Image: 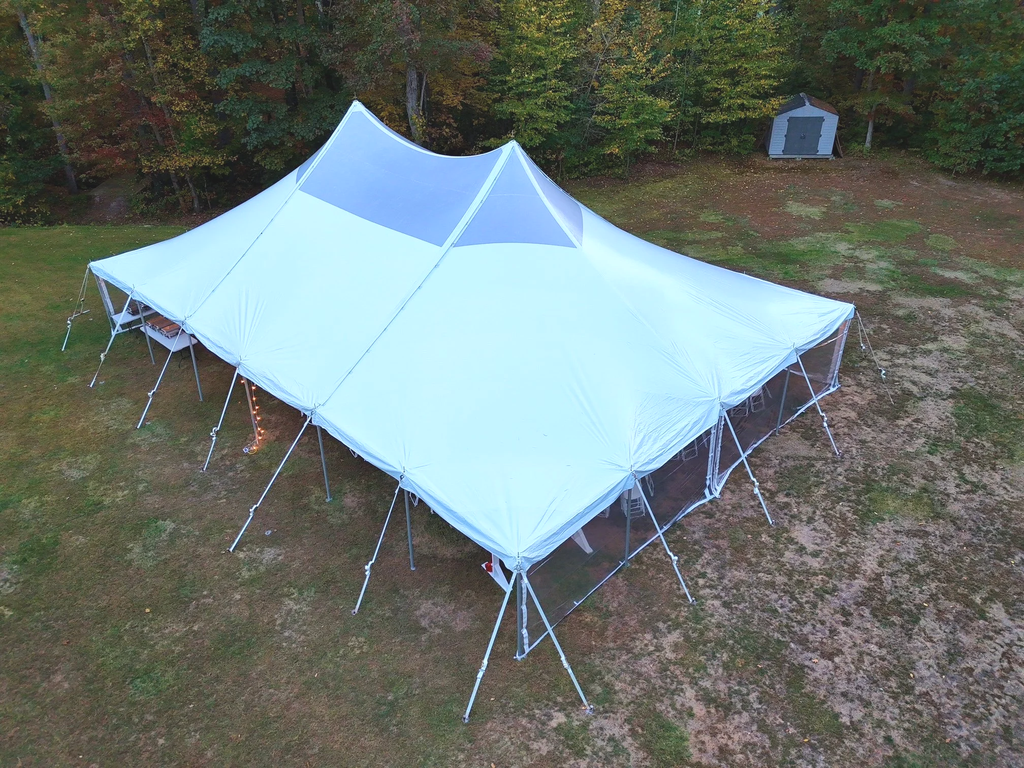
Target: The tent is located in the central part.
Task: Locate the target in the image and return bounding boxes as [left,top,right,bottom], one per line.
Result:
[61,88,895,722]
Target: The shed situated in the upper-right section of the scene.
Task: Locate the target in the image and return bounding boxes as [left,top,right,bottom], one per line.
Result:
[760,91,844,159]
